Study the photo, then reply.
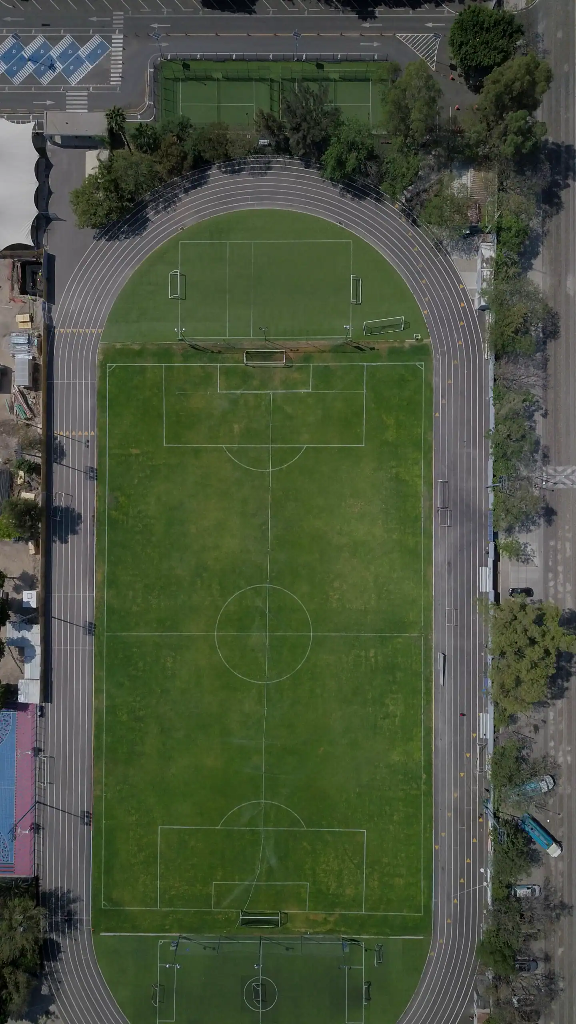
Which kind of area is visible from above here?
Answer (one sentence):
The picture captures a sports ground.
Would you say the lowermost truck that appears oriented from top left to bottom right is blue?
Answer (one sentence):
Yes, the lowermost truck that appears oriented from top left to bottom right is indeed blue.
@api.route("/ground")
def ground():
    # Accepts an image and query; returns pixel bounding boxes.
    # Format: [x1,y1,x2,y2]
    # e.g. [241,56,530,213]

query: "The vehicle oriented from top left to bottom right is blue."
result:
[515,808,560,856]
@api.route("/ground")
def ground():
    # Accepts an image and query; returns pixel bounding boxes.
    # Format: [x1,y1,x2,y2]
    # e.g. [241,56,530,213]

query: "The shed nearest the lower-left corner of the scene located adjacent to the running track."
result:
[18,678,40,703]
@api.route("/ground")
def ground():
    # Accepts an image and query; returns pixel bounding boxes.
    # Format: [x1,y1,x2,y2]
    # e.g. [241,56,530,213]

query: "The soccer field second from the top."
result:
[91,343,434,935]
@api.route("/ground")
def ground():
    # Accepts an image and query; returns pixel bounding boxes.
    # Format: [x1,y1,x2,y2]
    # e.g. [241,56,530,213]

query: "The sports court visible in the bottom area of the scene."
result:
[0,703,37,877]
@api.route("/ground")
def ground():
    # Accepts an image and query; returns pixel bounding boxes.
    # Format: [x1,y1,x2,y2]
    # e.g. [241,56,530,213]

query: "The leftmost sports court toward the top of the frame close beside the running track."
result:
[161,69,271,132]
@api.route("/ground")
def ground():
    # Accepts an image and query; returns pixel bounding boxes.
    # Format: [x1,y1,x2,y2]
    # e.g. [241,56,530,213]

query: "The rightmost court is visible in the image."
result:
[281,69,390,132]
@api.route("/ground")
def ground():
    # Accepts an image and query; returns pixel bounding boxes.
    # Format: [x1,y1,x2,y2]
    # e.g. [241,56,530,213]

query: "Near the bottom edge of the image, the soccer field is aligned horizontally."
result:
[92,933,432,1024]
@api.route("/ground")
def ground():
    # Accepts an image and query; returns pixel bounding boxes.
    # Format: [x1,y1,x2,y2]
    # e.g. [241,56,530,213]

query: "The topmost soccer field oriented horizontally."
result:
[101,208,430,343]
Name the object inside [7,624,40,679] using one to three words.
shed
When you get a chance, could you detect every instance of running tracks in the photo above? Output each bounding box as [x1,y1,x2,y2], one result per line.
[39,156,486,1024]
